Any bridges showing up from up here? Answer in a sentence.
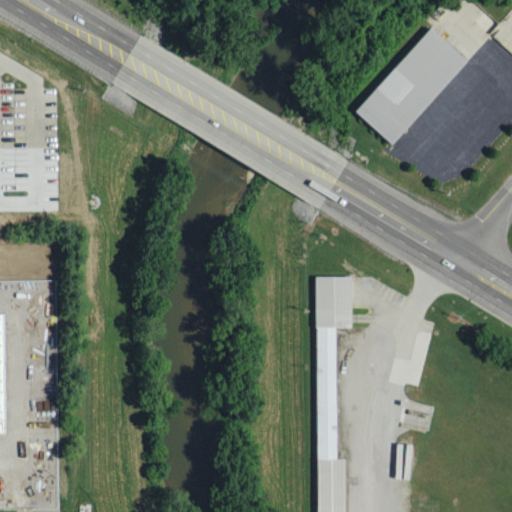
Yes, there's a bridge here.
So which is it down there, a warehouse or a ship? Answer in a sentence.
Looking from above, you can make out a warehouse.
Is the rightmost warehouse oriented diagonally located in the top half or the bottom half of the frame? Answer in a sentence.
The rightmost warehouse oriented diagonally is in the top half of the image.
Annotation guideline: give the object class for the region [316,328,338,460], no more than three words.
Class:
barn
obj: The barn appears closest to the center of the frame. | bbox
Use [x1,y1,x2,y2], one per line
[316,277,354,328]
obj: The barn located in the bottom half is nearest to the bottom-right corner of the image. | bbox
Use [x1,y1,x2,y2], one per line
[317,460,347,512]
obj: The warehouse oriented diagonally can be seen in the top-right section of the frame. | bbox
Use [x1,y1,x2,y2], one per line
[356,27,468,144]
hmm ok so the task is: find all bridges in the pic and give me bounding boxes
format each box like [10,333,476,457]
[112,36,349,209]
